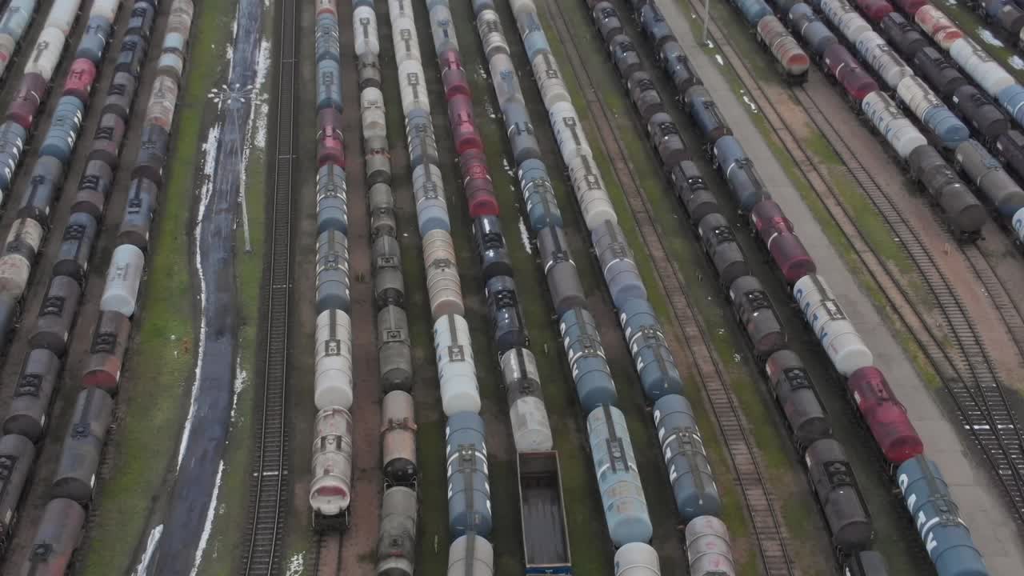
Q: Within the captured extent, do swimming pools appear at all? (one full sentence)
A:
No, this view has no swimming pool in it.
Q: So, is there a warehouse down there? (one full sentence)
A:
No, the photo shows no warehouse.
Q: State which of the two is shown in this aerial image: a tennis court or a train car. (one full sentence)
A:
It is a train car that can be seen here.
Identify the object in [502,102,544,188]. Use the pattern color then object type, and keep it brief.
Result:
gray rail car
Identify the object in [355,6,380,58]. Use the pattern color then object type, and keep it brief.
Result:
white rail car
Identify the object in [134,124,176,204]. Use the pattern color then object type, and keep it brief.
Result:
gray rail car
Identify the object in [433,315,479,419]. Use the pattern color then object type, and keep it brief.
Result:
white rail car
